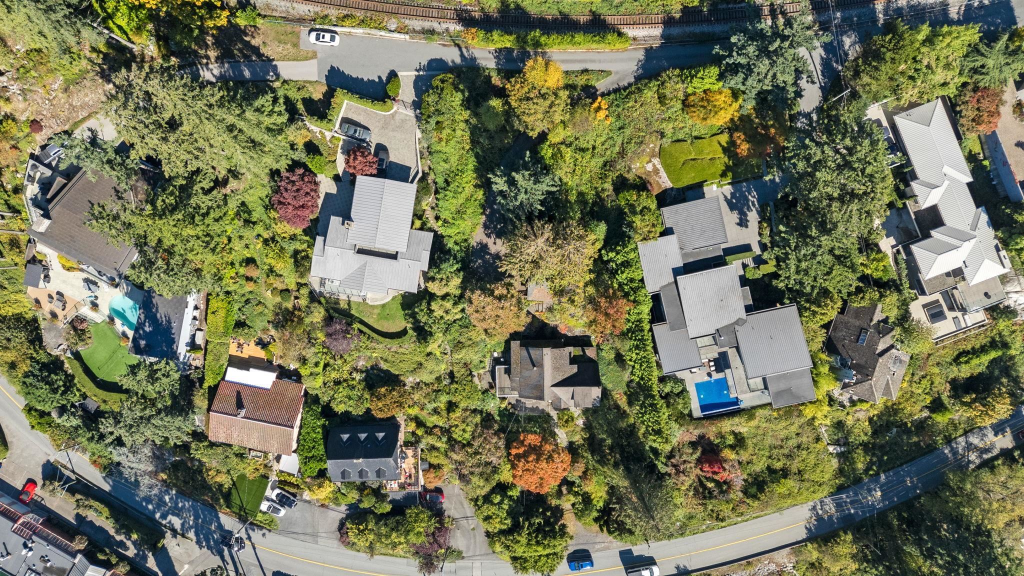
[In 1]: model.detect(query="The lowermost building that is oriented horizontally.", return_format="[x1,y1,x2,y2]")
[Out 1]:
[389,492,418,505]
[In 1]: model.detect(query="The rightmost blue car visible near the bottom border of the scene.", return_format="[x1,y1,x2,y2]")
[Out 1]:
[568,557,596,574]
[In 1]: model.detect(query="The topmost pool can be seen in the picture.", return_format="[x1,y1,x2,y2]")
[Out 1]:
[108,294,141,332]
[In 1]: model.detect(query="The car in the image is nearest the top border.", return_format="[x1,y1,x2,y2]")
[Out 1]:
[308,29,341,47]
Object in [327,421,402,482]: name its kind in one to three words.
house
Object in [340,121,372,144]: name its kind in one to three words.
car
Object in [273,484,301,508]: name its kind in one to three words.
car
